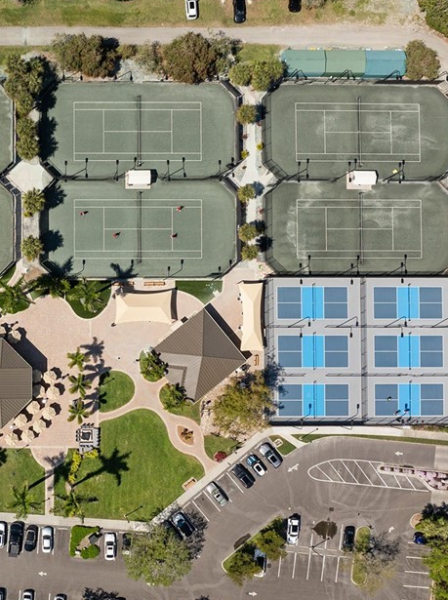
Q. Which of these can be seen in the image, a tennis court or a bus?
tennis court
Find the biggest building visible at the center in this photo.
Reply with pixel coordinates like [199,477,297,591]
[153,308,246,404]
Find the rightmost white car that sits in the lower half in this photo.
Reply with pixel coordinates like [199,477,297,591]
[287,516,301,543]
